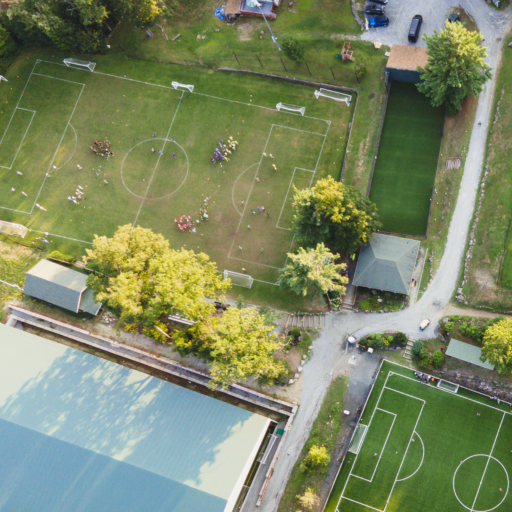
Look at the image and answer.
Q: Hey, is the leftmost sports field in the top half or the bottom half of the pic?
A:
top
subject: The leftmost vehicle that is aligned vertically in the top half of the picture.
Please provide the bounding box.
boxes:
[408,15,422,39]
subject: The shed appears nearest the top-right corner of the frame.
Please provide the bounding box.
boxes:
[387,44,428,83]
